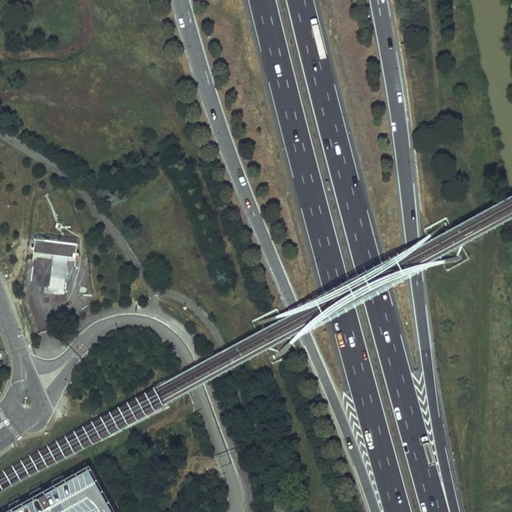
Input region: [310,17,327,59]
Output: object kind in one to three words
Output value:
vehicle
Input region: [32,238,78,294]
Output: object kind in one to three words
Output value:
building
